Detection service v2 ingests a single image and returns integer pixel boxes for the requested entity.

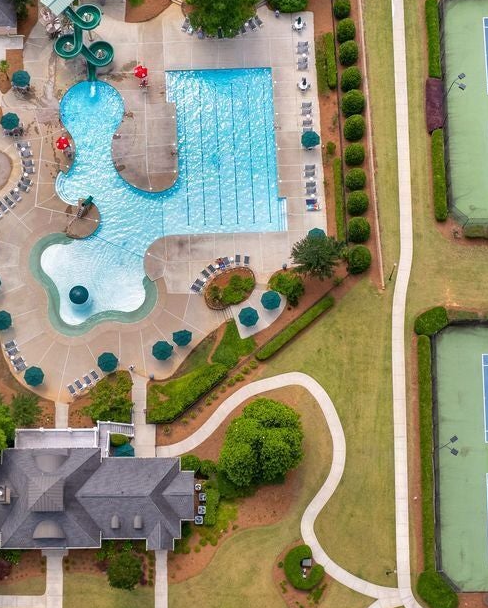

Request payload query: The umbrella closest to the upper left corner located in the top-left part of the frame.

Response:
[12,68,32,87]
